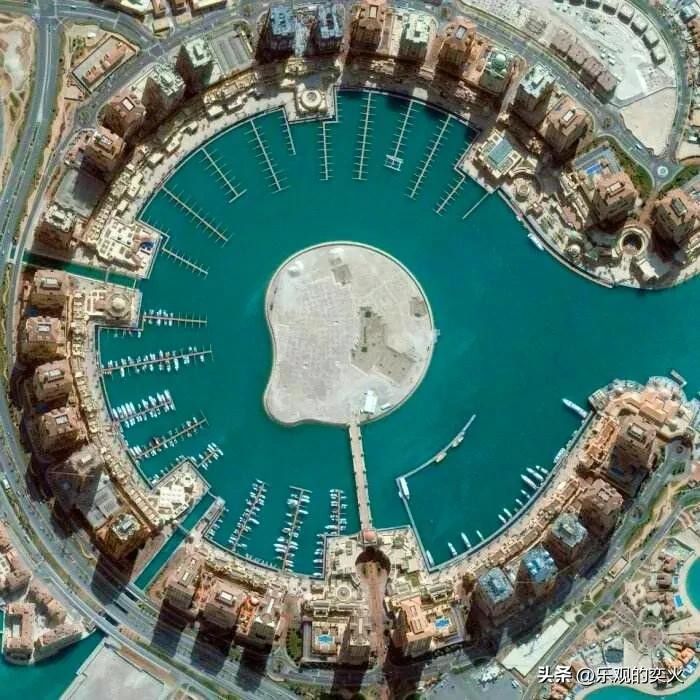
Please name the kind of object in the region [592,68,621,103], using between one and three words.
building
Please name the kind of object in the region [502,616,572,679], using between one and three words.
building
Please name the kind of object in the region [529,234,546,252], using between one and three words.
boat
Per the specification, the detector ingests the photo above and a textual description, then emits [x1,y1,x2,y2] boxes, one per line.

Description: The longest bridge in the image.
[347,421,373,532]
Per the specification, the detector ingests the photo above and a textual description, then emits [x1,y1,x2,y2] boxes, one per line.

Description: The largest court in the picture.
[663,537,695,560]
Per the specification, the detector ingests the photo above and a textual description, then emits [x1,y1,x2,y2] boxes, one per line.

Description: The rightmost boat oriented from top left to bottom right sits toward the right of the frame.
[563,400,588,418]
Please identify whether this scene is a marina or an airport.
marina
